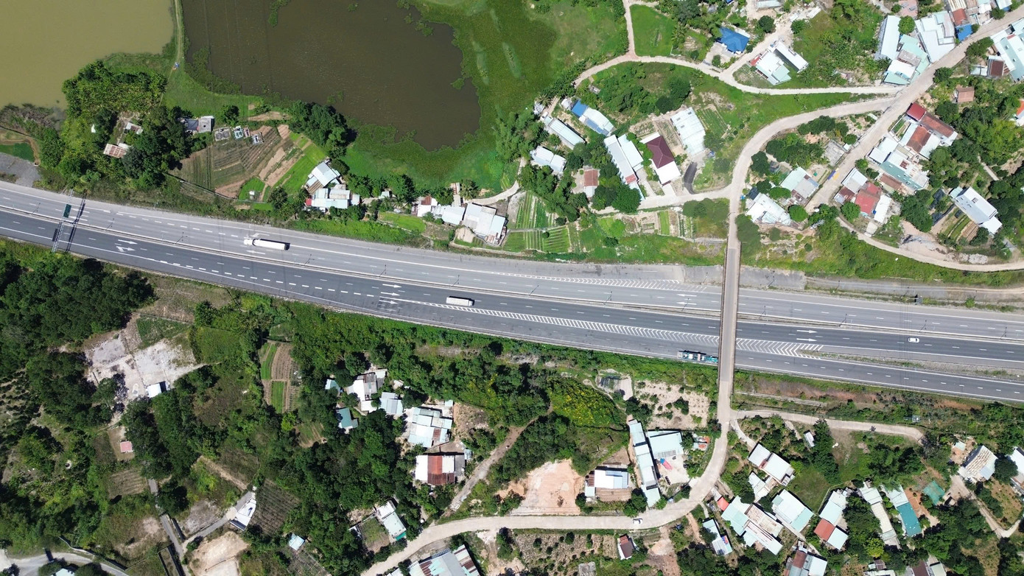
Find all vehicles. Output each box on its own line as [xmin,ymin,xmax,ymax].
[907,337,919,343]
[446,297,473,308]
[632,518,643,524]
[659,458,673,471]
[244,239,287,252]
[678,352,718,363]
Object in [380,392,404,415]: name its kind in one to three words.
house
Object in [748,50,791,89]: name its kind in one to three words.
house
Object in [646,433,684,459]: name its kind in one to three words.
building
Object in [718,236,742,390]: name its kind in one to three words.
bridge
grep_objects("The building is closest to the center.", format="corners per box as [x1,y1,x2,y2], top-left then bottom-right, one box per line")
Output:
[463,203,506,246]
